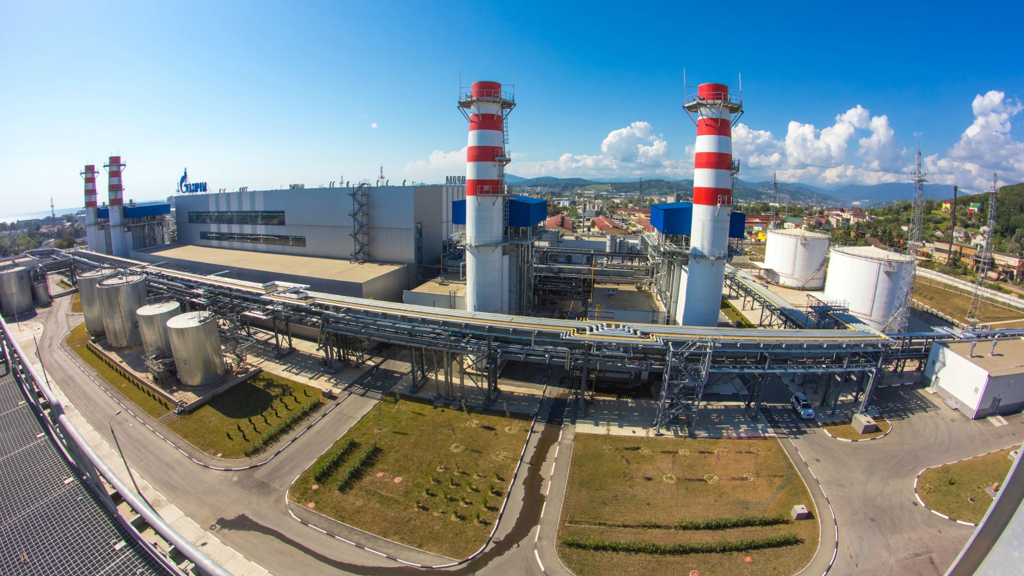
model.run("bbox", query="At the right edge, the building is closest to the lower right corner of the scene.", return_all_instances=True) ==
[921,335,1024,424]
